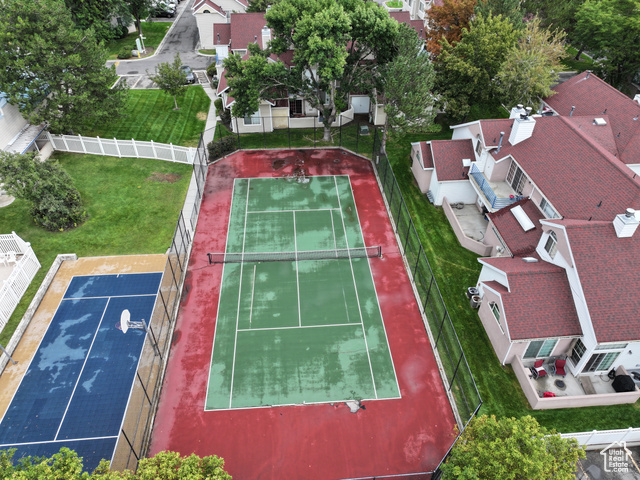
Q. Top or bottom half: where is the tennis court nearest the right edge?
bottom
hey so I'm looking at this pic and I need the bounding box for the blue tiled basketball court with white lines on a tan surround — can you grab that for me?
[0,250,186,480]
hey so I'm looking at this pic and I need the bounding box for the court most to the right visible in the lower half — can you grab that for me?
[141,145,463,480]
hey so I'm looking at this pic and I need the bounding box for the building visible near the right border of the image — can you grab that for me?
[411,69,640,375]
